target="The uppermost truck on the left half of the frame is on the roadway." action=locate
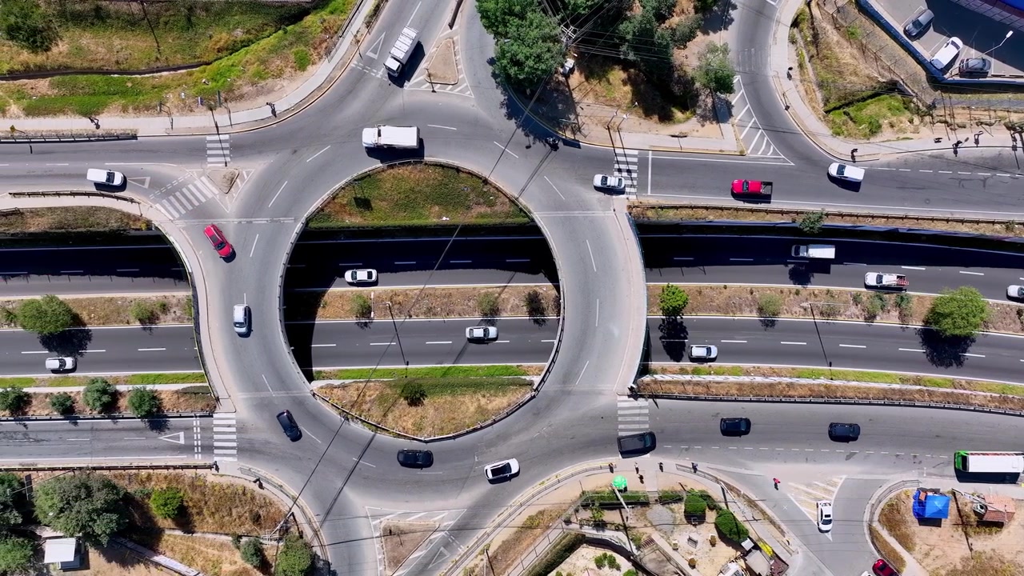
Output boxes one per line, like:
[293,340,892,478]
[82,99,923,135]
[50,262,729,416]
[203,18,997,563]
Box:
[384,24,423,88]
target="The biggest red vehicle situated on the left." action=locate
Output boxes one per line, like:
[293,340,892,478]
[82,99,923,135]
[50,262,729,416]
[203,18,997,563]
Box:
[204,224,235,261]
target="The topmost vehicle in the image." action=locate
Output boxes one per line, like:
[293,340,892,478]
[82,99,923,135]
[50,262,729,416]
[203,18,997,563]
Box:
[898,8,935,39]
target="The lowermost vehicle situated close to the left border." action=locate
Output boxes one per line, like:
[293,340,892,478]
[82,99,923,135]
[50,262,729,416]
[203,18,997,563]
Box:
[47,357,80,372]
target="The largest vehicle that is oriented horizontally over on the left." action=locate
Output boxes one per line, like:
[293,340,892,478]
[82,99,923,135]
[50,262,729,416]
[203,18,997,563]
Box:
[365,127,422,151]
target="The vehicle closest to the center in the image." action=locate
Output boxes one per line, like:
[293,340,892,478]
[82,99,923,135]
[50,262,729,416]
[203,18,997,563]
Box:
[466,326,498,341]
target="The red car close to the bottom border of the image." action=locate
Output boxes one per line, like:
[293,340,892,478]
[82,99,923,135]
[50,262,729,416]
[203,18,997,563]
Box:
[868,555,903,576]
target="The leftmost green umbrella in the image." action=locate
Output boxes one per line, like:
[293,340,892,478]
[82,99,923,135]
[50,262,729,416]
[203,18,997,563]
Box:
[612,475,627,490]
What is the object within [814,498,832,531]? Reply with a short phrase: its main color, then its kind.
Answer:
white car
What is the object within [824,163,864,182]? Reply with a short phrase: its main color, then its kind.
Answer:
white car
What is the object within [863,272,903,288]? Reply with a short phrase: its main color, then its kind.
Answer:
white vehicle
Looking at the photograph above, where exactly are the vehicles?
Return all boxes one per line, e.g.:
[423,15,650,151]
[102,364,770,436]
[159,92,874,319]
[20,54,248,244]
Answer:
[234,305,251,334]
[730,180,771,197]
[824,163,864,182]
[687,345,716,360]
[545,140,559,147]
[718,418,749,434]
[593,175,625,191]
[347,269,378,284]
[47,357,80,372]
[953,58,988,76]
[384,24,423,88]
[485,459,520,479]
[923,37,959,76]
[466,326,498,341]
[814,498,832,531]
[616,432,655,452]
[277,408,302,441]
[868,555,903,576]
[947,450,1024,474]
[204,224,235,261]
[863,272,903,288]
[825,424,858,440]
[398,449,433,466]
[365,127,422,151]
[898,8,935,39]
[787,243,836,261]
[714,559,751,576]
